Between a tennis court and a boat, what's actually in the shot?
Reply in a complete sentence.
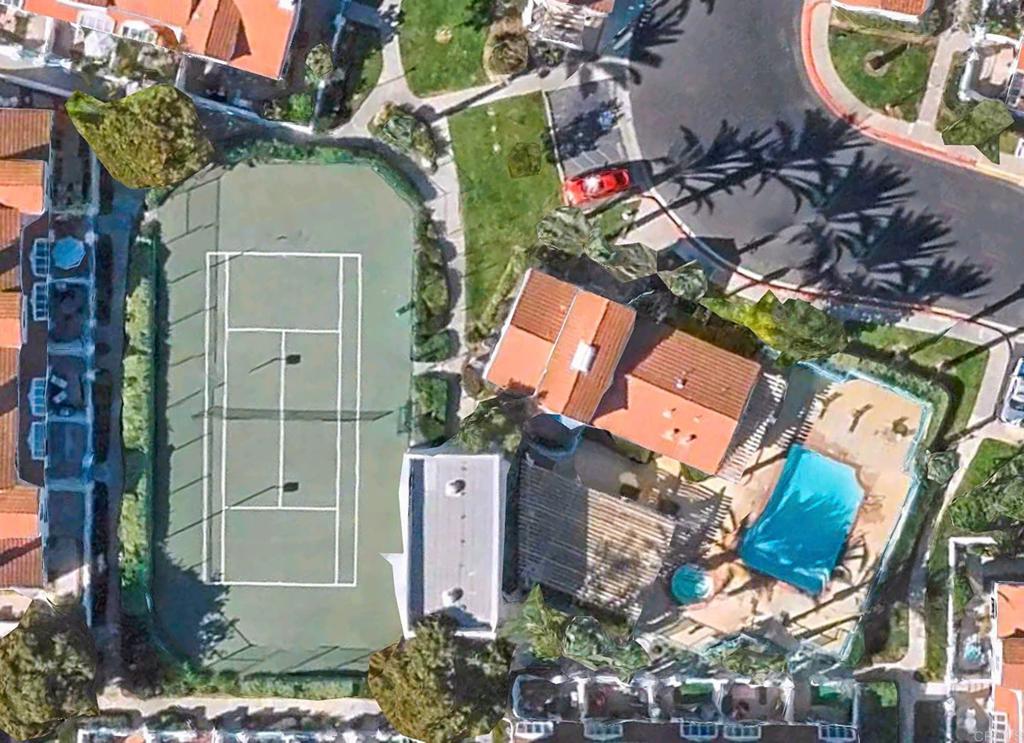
Looking from above, you can make out a tennis court.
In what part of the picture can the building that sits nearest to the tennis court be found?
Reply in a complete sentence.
The building that sits nearest to the tennis court is in the bottom part of the image.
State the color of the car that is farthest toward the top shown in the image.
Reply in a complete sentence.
The color of the car that is farthest toward the top is red.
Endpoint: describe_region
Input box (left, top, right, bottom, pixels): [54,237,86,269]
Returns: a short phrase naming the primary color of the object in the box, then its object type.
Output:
blue umbrella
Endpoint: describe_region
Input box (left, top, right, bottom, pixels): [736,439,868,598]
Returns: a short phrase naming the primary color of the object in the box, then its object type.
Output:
blue swimming pool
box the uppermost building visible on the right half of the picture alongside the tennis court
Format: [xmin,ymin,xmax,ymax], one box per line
[484,268,762,475]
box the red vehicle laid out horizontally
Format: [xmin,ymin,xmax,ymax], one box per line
[563,166,634,204]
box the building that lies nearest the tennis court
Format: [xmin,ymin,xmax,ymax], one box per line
[399,453,497,634]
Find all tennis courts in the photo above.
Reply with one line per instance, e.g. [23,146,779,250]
[154,161,414,673]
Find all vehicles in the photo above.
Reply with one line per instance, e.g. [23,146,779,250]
[1002,356,1024,424]
[563,166,634,204]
